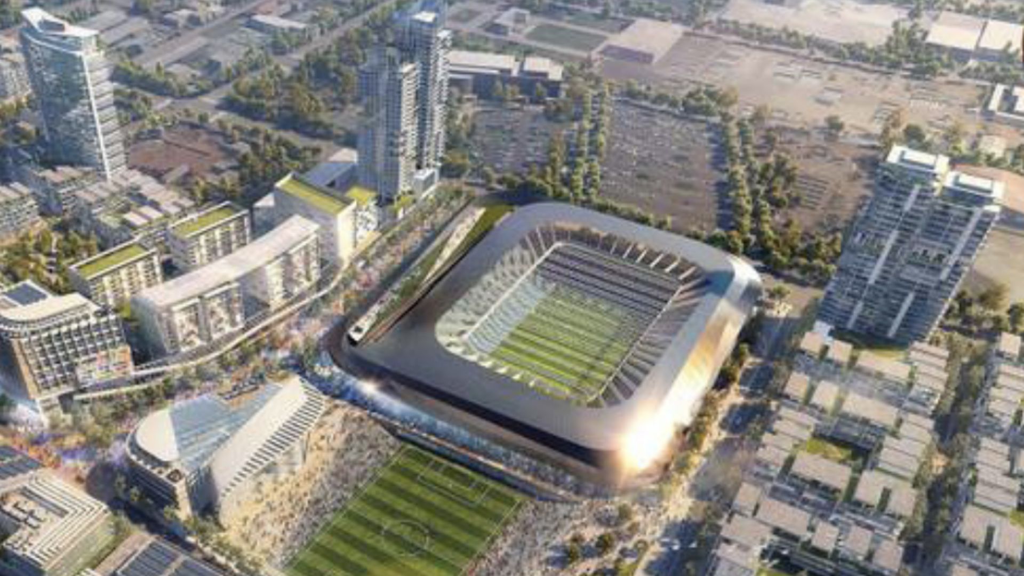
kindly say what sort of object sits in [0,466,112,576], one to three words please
building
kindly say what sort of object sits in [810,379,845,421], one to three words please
house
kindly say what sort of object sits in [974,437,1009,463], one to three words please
house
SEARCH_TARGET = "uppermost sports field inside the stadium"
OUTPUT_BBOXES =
[491,293,656,408]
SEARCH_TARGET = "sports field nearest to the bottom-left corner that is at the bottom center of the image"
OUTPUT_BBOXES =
[281,438,529,576]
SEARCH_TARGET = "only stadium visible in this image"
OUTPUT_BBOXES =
[306,193,758,510]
